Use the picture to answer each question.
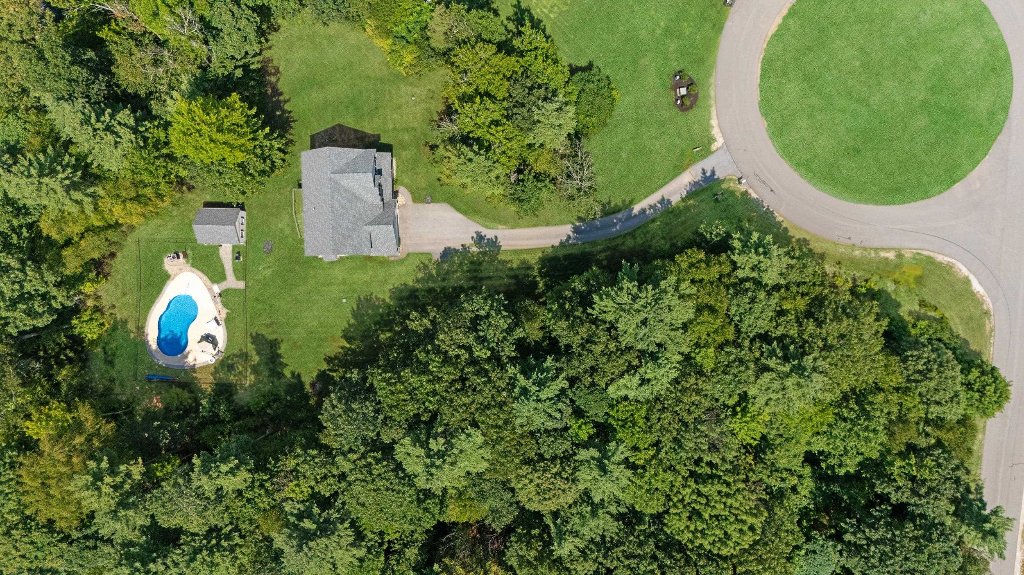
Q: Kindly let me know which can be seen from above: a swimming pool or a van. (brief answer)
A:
swimming pool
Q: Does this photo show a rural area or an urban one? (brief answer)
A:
rural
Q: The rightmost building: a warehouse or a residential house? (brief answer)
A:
residential house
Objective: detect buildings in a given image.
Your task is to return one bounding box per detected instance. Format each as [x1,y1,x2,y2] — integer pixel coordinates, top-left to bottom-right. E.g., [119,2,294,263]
[301,147,400,263]
[192,208,246,244]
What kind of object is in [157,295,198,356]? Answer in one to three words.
swimming pool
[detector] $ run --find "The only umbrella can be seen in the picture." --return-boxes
[198,338,224,358]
